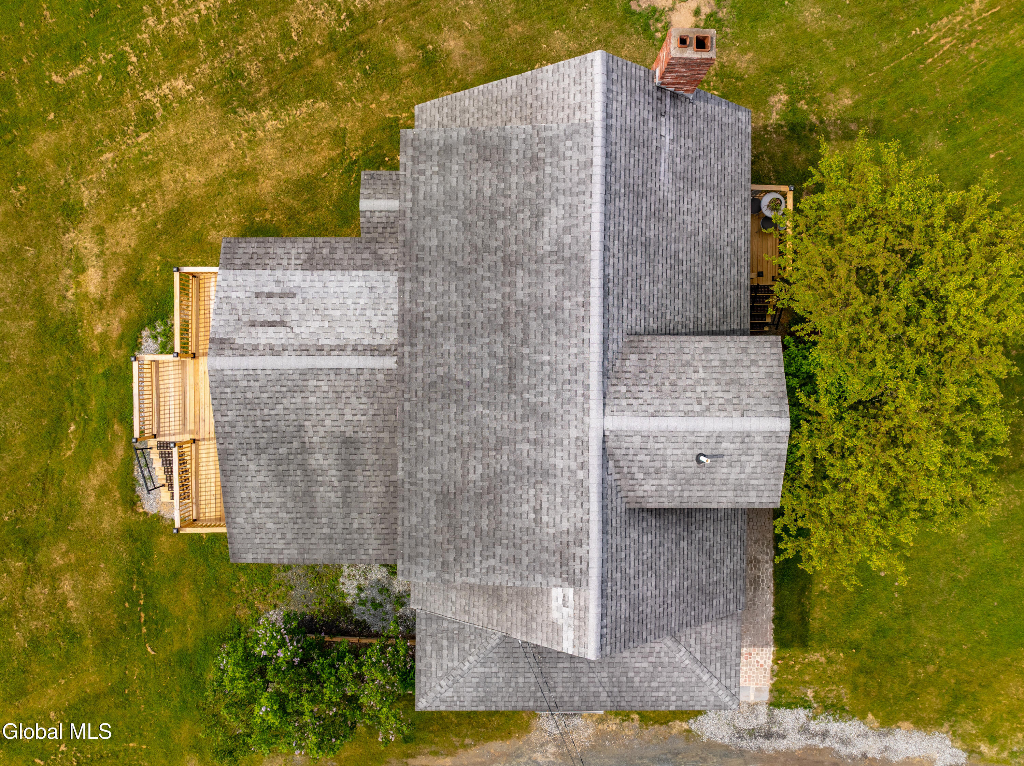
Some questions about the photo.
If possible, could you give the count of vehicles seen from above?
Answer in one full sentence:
Not a single vehicle can be seen.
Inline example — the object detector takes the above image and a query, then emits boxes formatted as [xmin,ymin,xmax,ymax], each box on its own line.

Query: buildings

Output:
[207,27,791,714]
